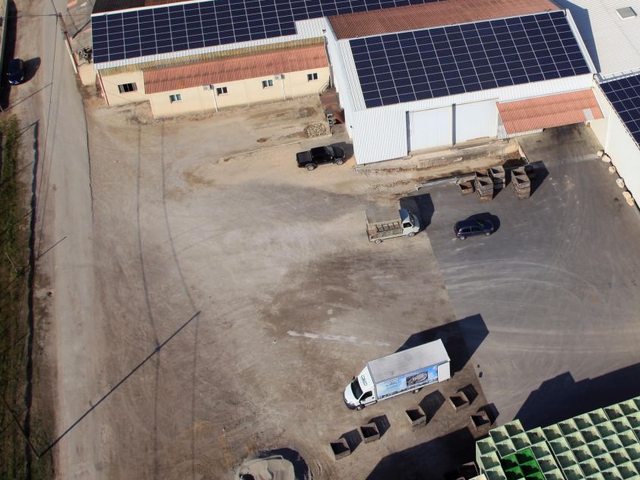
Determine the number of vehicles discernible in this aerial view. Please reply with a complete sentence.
In total, there are 5 vehicles in the scene.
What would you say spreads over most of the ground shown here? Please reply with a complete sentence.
For the most part, this view shows paved ground.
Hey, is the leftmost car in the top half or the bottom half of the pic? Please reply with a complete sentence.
It is in the top half that the leftmost car appears.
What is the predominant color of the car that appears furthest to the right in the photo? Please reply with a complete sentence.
The car that appears furthest to the right looks black in the image.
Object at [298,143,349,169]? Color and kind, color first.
black truck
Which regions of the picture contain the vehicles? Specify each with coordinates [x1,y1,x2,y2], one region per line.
[340,339,444,410]
[298,143,349,169]
[452,215,493,239]
[360,206,424,241]
[2,52,24,82]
